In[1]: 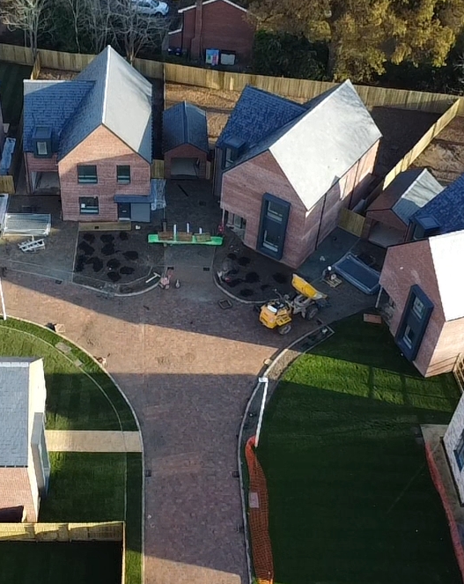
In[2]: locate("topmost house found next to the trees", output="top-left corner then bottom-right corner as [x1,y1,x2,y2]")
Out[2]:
[157,0,262,58]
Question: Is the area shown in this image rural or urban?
urban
